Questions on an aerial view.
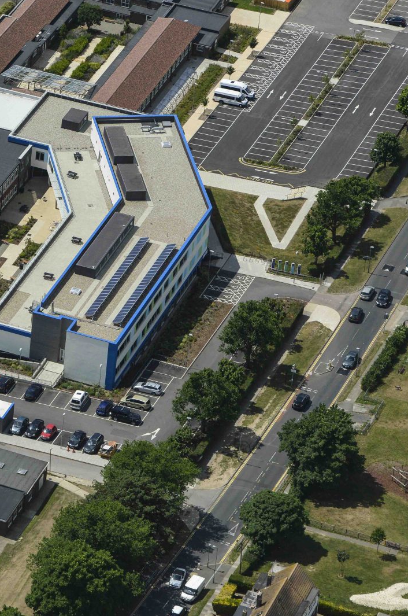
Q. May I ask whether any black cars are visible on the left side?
Yes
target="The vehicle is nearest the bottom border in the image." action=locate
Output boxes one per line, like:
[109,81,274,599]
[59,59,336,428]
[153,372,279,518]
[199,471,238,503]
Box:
[170,601,187,616]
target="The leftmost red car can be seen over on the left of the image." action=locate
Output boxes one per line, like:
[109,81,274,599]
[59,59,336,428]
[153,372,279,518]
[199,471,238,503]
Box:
[40,420,59,438]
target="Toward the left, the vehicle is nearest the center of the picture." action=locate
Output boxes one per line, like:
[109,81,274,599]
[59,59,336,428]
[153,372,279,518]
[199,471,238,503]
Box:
[134,380,163,394]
